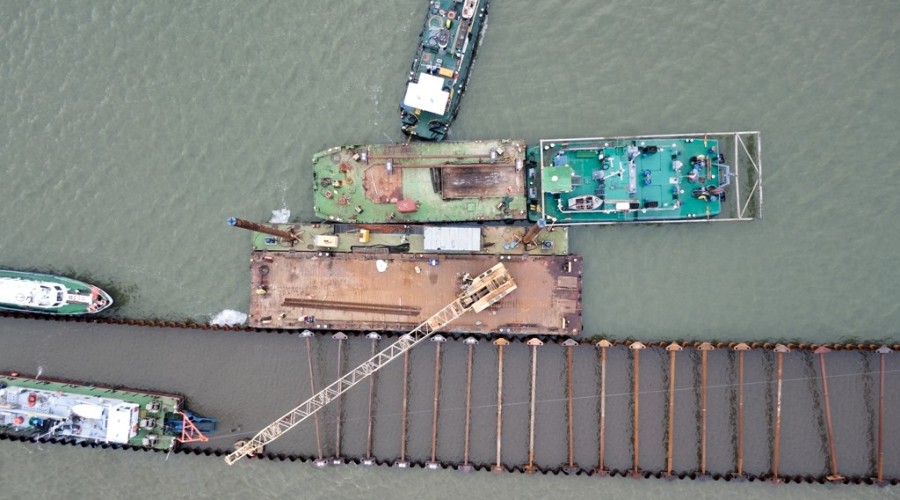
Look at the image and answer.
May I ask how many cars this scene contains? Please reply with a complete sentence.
The photo contains no cars.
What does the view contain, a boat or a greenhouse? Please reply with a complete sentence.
It is a boat that can be seen here.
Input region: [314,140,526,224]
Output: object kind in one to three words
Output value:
ship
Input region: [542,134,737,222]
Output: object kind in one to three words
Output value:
boat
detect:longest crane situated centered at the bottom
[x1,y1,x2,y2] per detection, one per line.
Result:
[225,263,517,464]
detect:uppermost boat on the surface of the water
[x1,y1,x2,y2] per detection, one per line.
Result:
[399,0,491,142]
